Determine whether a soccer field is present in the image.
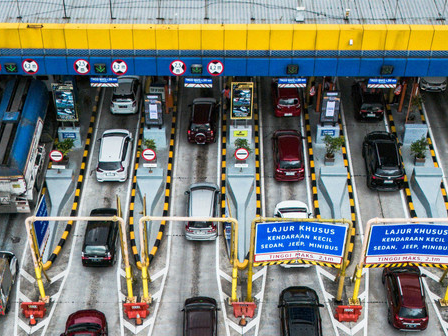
No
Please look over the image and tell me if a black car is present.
Yes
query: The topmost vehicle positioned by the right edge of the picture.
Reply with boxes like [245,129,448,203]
[416,76,446,93]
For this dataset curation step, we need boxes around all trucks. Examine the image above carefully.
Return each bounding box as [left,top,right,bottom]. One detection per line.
[0,245,24,316]
[0,74,61,214]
